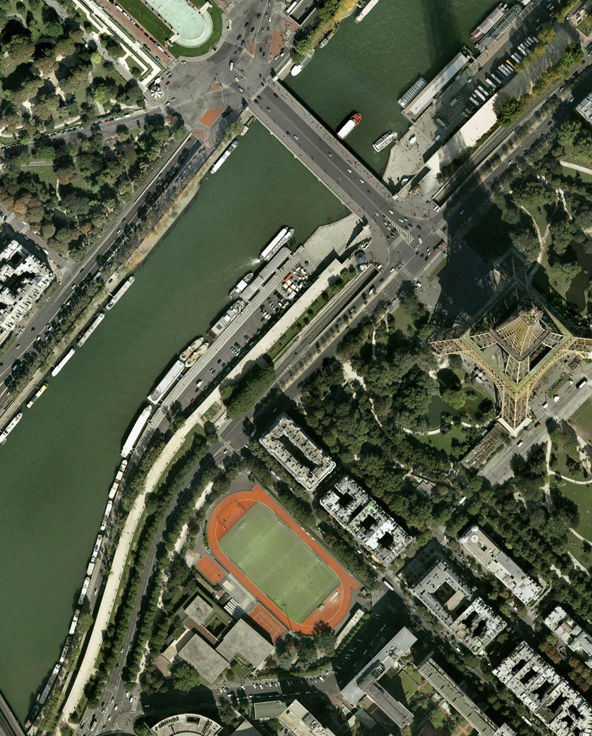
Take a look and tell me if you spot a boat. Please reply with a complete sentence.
Yes, there's a boat down there.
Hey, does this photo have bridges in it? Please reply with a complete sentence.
Yes, a bridge can be made out from above.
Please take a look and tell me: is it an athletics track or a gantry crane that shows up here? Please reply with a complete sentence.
The one in the frame is an athletics track.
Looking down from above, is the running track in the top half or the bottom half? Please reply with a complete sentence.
You can find the running track in the bottom half.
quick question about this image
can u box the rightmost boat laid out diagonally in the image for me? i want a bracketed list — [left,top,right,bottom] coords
[469,8,503,43]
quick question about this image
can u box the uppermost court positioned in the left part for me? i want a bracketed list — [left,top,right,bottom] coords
[194,555,228,586]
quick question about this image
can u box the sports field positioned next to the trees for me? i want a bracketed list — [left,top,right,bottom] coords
[203,465,382,639]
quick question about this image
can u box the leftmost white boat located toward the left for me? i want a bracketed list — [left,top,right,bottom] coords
[0,414,23,444]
